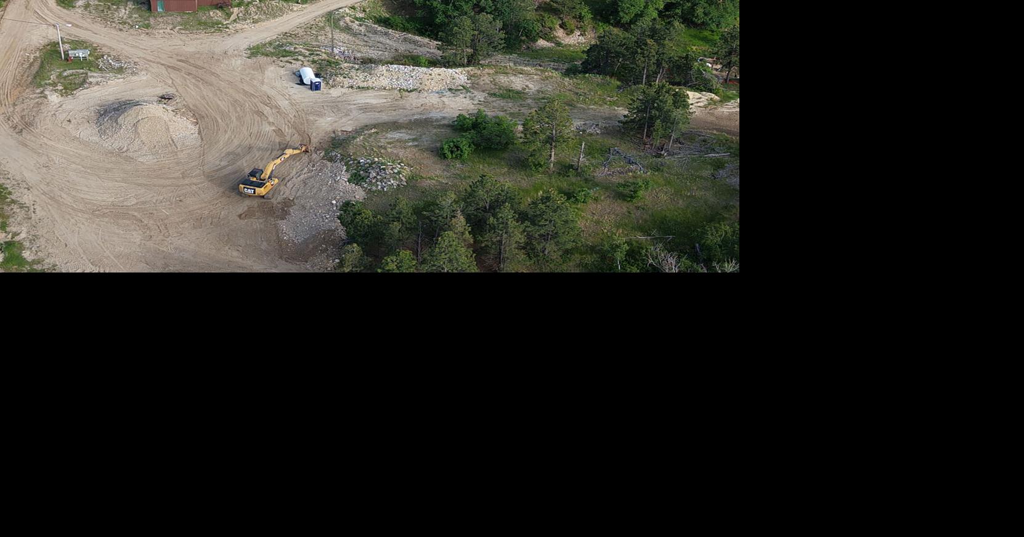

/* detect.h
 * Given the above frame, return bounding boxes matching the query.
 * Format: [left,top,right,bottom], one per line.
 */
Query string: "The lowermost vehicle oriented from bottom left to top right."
[237,140,310,199]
